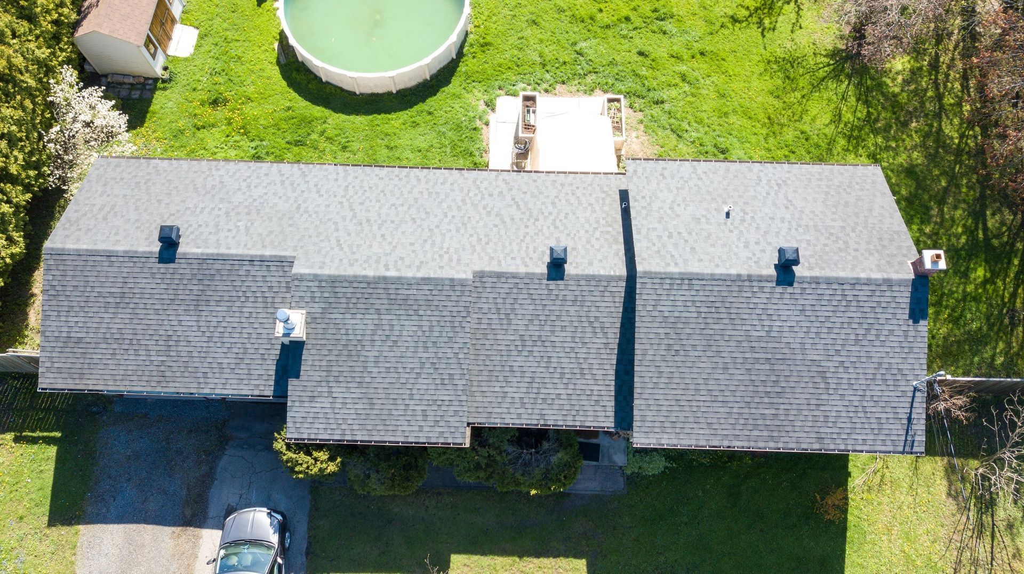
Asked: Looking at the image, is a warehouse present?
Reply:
No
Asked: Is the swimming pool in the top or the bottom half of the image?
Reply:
top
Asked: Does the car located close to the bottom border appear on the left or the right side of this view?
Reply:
left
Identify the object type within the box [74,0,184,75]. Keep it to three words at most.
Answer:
shed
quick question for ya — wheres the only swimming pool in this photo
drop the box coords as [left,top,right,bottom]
[278,0,473,92]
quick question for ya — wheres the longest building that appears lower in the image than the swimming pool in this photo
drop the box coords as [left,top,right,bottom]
[38,154,950,467]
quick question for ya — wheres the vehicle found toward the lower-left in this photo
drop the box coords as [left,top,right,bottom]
[208,508,288,574]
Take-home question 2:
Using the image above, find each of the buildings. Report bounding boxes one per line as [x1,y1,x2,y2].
[38,154,950,467]
[74,0,184,75]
